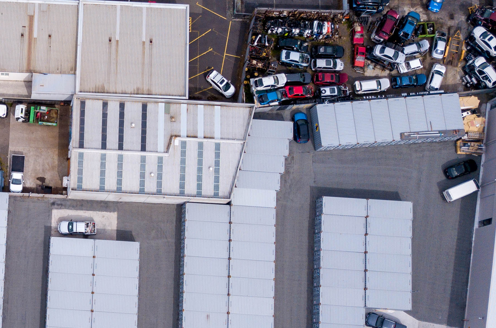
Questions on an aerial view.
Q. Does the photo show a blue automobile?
Yes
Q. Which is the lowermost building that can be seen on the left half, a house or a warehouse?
warehouse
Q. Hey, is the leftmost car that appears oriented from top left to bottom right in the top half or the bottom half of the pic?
top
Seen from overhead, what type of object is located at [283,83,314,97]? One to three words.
car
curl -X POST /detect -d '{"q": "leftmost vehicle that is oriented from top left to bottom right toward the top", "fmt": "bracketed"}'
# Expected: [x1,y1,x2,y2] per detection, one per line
[204,70,239,100]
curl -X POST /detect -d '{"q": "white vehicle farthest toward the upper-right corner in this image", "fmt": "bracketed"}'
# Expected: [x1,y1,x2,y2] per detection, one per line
[469,24,496,60]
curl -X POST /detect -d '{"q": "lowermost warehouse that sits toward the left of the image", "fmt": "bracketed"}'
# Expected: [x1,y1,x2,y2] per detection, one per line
[66,93,257,205]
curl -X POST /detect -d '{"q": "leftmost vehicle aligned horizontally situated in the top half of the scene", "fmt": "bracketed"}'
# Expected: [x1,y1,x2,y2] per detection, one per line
[15,104,59,125]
